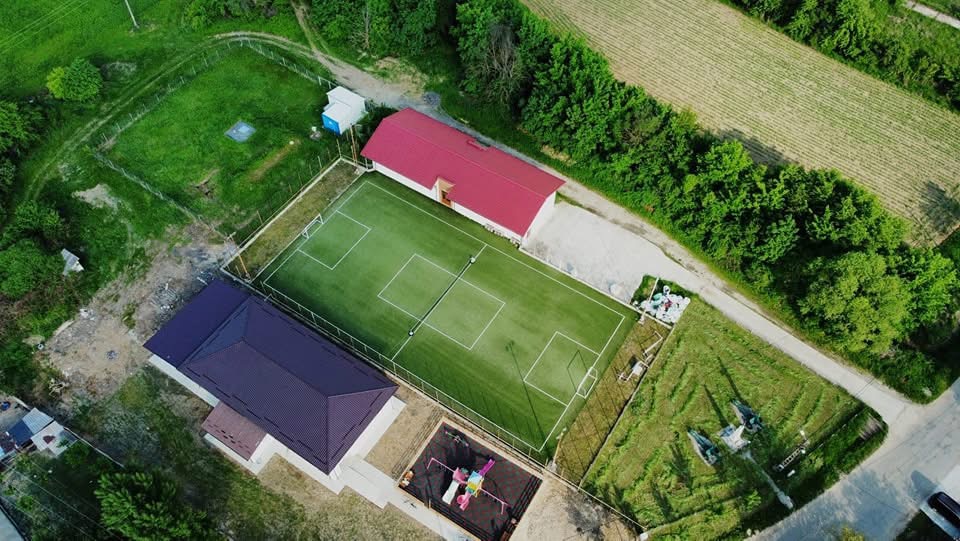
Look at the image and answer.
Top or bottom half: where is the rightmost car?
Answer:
bottom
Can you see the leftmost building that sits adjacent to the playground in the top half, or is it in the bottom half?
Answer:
bottom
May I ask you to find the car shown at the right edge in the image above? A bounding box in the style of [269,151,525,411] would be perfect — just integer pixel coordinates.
[928,495,960,534]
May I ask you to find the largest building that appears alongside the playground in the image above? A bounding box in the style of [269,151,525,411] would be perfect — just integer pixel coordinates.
[144,279,398,477]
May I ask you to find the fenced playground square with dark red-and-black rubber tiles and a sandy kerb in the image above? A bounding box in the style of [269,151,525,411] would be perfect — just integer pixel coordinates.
[394,417,547,541]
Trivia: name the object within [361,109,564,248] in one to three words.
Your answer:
building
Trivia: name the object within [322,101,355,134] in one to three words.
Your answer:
building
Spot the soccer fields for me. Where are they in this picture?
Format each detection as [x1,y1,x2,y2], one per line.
[248,170,643,469]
